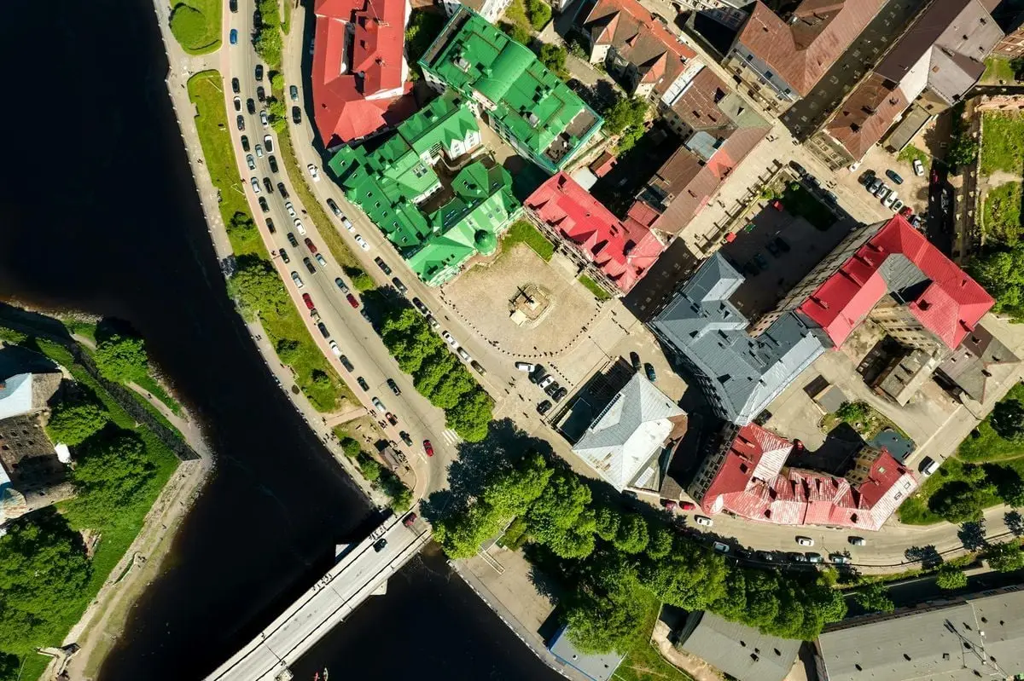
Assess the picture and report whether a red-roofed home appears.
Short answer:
Yes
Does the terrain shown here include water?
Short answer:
Yes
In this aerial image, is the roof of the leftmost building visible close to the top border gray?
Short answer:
No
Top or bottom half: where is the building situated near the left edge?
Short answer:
bottom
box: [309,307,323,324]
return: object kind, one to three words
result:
vehicle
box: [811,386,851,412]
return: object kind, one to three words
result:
shed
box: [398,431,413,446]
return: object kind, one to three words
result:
car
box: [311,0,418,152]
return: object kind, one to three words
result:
building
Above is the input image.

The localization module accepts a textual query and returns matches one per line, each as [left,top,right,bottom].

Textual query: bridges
[197,504,435,681]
